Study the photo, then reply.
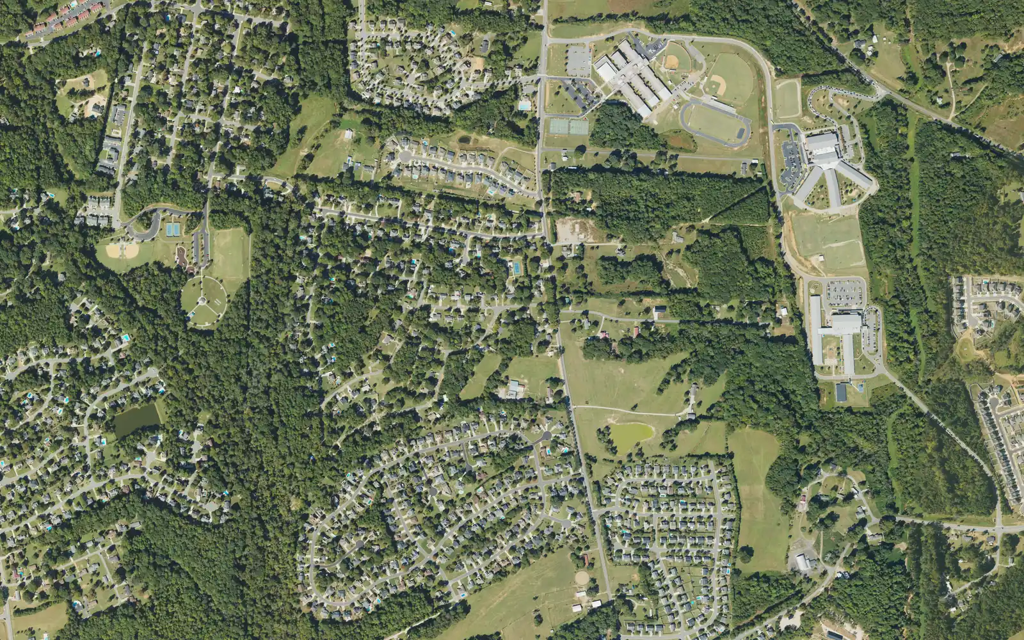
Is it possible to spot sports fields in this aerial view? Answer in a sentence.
Yes, the photo shows a sports field.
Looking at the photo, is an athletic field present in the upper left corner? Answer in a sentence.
No, the scene shows no athletic field in the upper left corner.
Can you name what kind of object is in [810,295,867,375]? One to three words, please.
building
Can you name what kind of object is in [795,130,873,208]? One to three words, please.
building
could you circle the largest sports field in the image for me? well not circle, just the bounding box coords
[791,214,865,271]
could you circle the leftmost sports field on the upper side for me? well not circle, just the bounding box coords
[683,104,742,143]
